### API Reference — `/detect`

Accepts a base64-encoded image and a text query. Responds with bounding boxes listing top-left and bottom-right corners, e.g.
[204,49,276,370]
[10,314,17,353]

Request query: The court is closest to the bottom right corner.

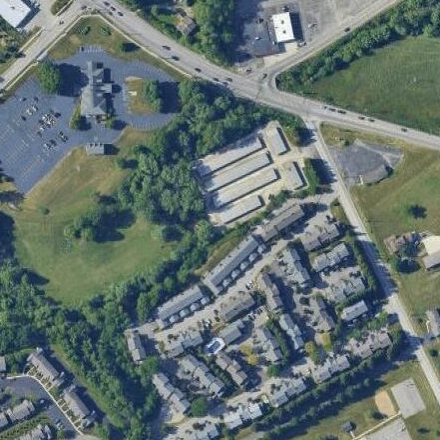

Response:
[391,379,426,418]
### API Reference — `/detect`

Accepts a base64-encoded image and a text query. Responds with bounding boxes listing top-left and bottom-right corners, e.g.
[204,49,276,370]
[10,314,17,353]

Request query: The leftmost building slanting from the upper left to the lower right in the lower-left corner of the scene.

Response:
[27,354,60,382]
